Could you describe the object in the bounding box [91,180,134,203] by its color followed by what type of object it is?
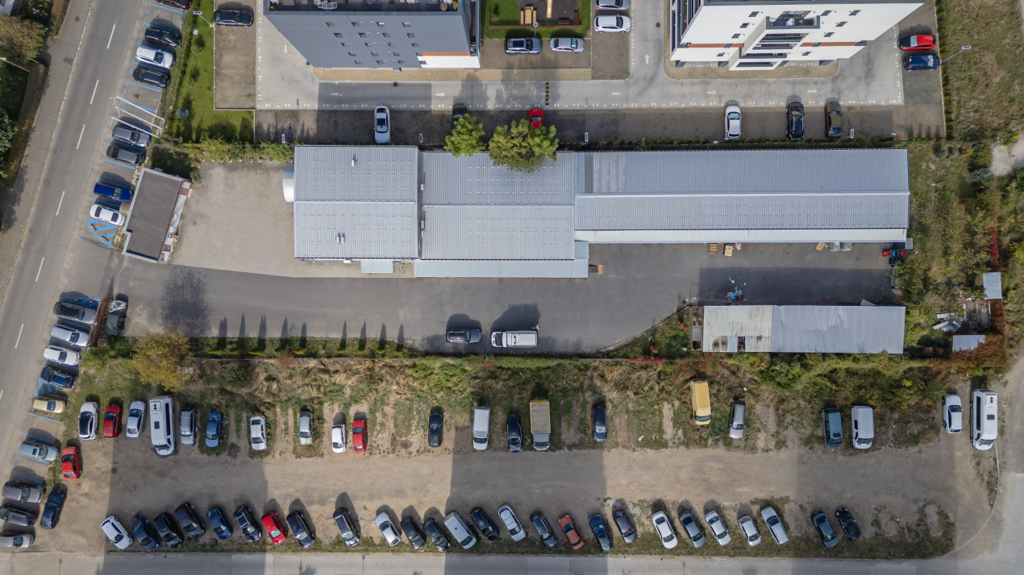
blue truck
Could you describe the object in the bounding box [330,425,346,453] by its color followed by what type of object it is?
white car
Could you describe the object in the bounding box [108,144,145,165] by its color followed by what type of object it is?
black car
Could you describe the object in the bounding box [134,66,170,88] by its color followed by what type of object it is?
black car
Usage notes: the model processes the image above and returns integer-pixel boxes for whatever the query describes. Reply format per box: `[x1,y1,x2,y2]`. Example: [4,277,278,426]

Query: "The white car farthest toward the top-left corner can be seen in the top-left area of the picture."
[136,46,174,69]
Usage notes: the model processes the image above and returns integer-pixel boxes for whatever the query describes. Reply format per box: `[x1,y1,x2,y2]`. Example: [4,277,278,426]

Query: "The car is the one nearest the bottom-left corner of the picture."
[0,531,35,551]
